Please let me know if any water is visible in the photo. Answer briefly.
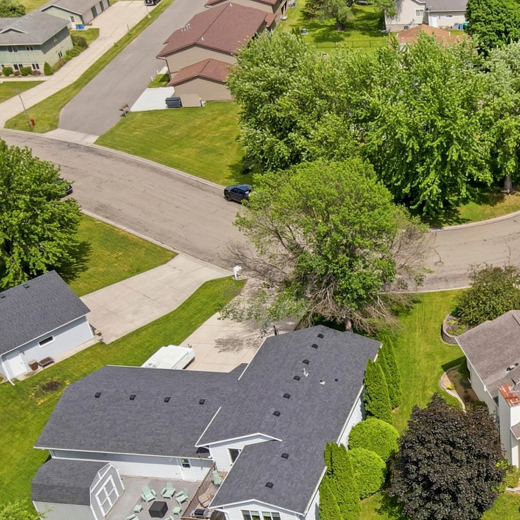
No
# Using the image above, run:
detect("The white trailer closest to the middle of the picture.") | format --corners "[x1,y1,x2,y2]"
[147,347,195,369]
